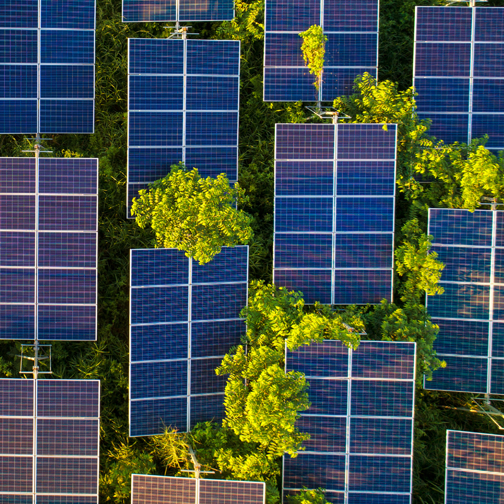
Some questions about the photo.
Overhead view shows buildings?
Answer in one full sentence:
No, the scene contains no building.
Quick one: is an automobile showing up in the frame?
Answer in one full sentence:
No, there's no automobile here.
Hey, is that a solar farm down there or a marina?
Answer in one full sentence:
It's a solar farm.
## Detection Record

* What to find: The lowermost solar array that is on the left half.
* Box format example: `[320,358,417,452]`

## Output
[132,467,264,504]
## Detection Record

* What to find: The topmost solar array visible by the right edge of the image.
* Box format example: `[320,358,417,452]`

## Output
[412,0,504,190]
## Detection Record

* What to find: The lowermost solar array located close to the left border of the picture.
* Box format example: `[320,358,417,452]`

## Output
[0,368,100,504]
